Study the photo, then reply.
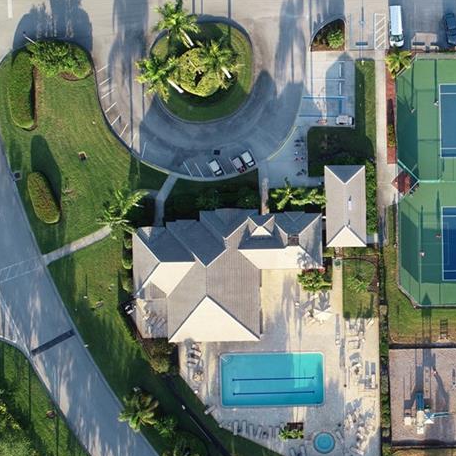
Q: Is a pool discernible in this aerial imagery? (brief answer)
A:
Yes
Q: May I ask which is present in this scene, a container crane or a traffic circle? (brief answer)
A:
traffic circle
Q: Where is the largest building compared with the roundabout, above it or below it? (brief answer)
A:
below it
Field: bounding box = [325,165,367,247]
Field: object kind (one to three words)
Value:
shed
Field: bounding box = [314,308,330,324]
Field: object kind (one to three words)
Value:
umbrella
